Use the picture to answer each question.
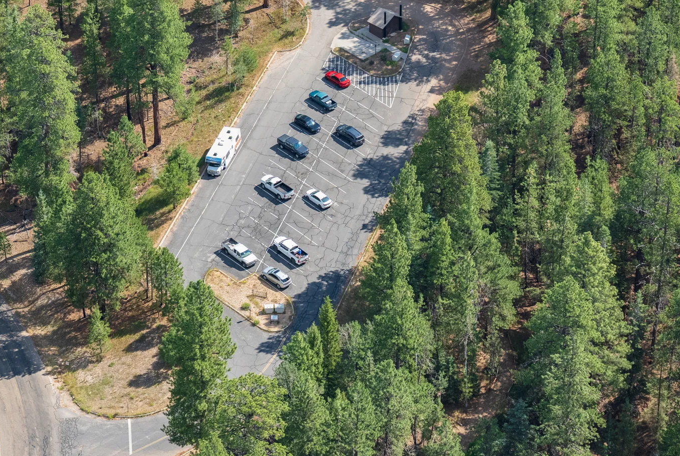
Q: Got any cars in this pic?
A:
Yes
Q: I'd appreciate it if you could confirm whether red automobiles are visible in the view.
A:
Yes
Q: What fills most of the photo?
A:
trees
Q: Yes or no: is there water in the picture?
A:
No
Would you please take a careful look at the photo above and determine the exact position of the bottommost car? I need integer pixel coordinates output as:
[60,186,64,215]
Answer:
[260,267,293,289]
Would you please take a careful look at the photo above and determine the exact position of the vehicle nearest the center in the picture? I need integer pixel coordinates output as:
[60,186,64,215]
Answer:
[304,188,333,209]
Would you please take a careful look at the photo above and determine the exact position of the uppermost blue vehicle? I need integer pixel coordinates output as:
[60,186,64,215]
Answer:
[306,88,338,109]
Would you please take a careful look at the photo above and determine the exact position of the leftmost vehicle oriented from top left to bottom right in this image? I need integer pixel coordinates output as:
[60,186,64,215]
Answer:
[222,239,259,268]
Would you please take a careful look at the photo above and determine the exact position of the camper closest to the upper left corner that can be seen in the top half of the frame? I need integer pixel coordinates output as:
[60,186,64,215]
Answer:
[207,128,239,173]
